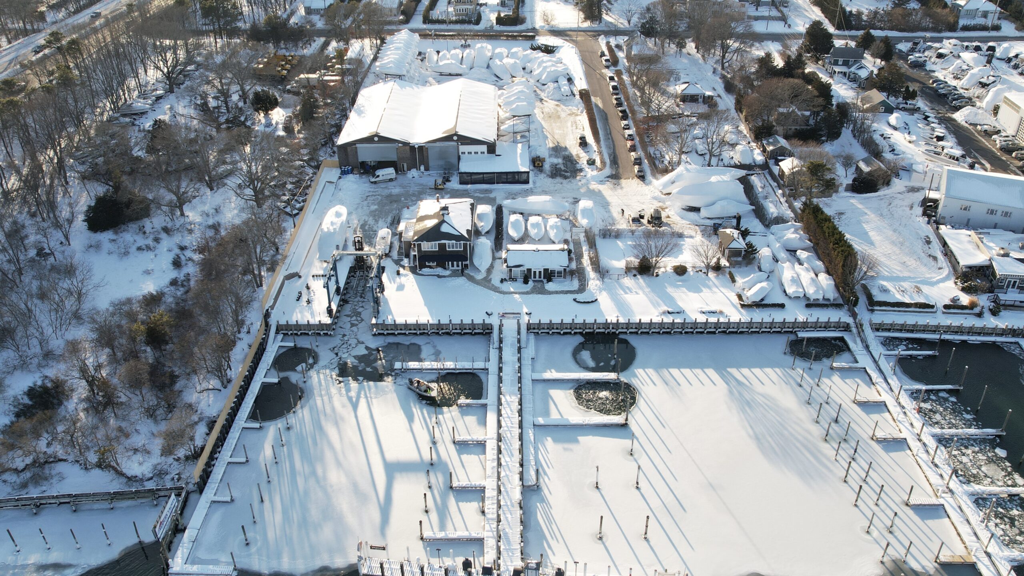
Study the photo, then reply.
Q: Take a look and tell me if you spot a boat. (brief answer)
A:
Yes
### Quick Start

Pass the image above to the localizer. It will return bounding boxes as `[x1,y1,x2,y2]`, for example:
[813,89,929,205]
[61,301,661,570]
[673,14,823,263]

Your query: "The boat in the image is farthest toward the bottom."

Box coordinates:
[406,381,440,399]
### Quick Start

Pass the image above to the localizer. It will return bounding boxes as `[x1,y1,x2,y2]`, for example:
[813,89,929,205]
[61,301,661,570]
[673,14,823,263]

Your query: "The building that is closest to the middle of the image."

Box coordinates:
[499,242,569,280]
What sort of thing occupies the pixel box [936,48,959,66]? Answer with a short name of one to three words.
boat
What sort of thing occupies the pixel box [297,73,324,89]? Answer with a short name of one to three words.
vehicle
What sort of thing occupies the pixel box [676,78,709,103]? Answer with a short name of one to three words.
house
